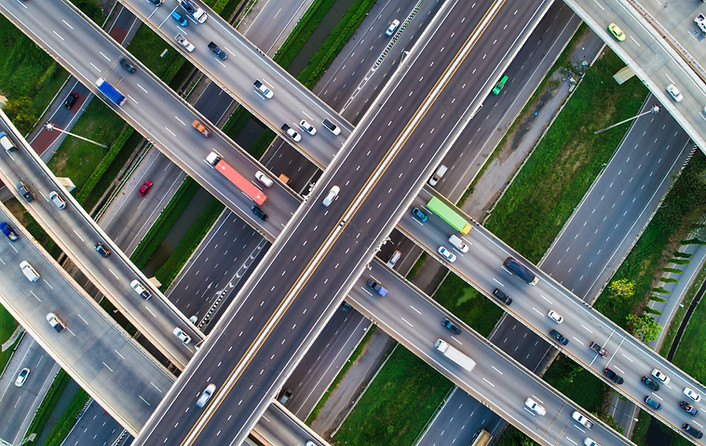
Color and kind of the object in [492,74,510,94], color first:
green vehicle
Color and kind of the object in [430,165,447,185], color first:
white vehicle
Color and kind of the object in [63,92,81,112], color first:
black car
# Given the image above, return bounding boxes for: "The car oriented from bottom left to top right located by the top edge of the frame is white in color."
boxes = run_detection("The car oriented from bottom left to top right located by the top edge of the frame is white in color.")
[384,19,401,38]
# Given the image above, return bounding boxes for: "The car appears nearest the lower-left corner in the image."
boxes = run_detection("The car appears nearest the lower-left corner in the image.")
[17,369,30,385]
